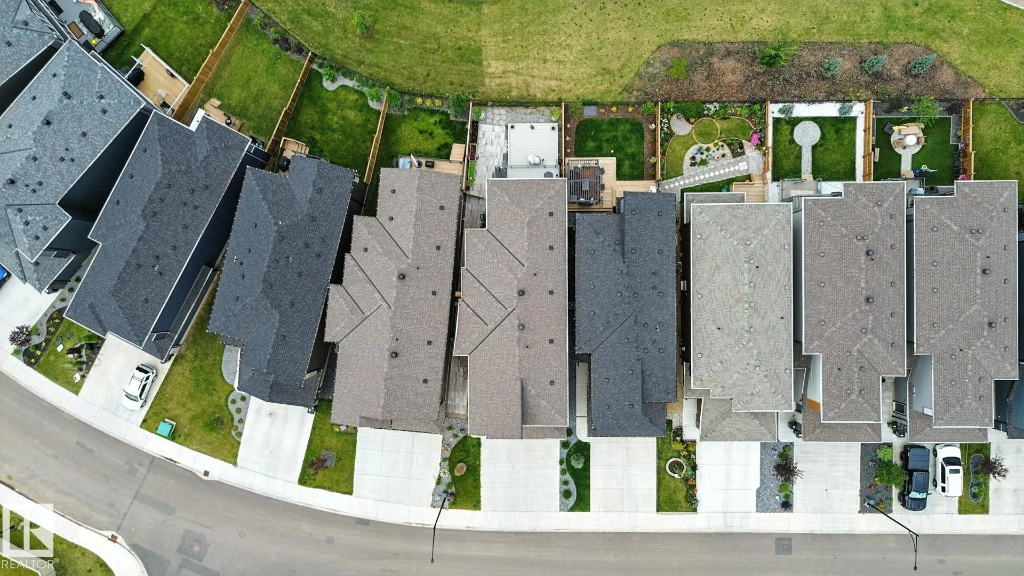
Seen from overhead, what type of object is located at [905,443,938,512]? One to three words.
truck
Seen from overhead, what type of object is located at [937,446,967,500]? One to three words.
car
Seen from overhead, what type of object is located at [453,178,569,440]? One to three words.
house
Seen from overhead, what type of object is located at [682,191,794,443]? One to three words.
house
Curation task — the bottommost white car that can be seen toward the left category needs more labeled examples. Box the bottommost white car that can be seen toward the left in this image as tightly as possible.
[118,362,158,415]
